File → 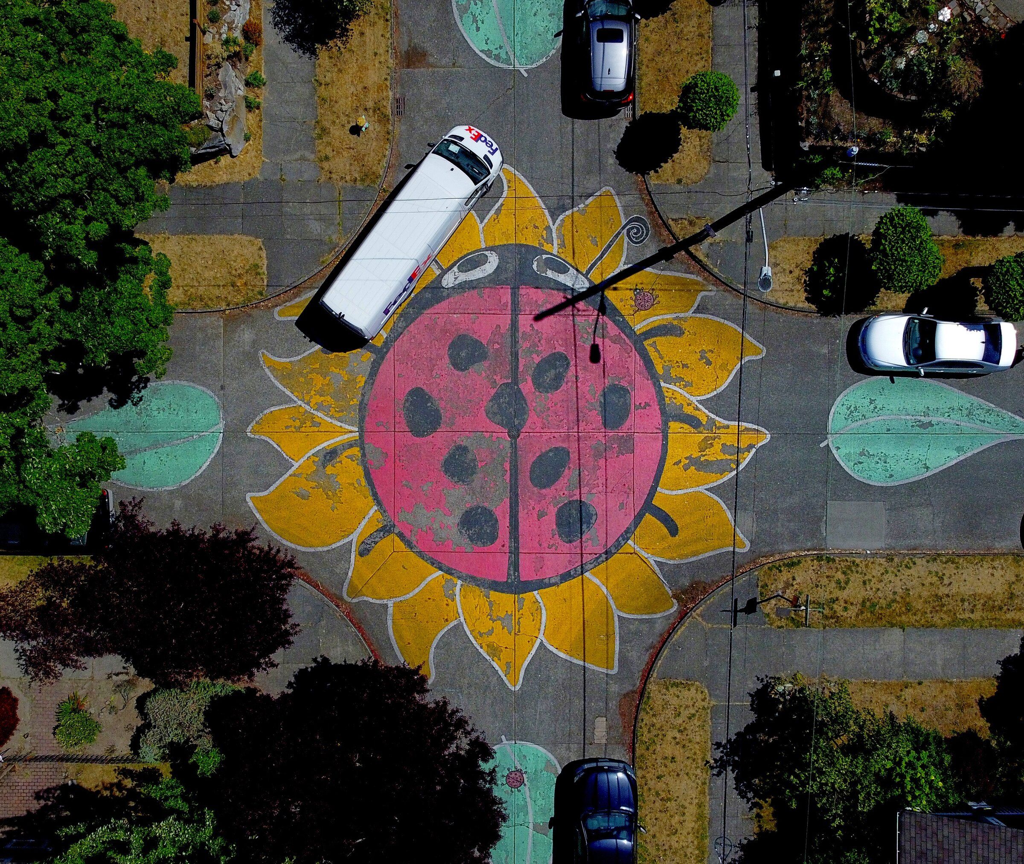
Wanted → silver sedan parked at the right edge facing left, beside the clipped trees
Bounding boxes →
[859,304,1014,381]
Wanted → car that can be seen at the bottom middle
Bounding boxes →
[562,756,644,864]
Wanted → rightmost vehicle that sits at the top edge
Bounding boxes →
[567,0,647,107]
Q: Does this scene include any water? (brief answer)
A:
No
